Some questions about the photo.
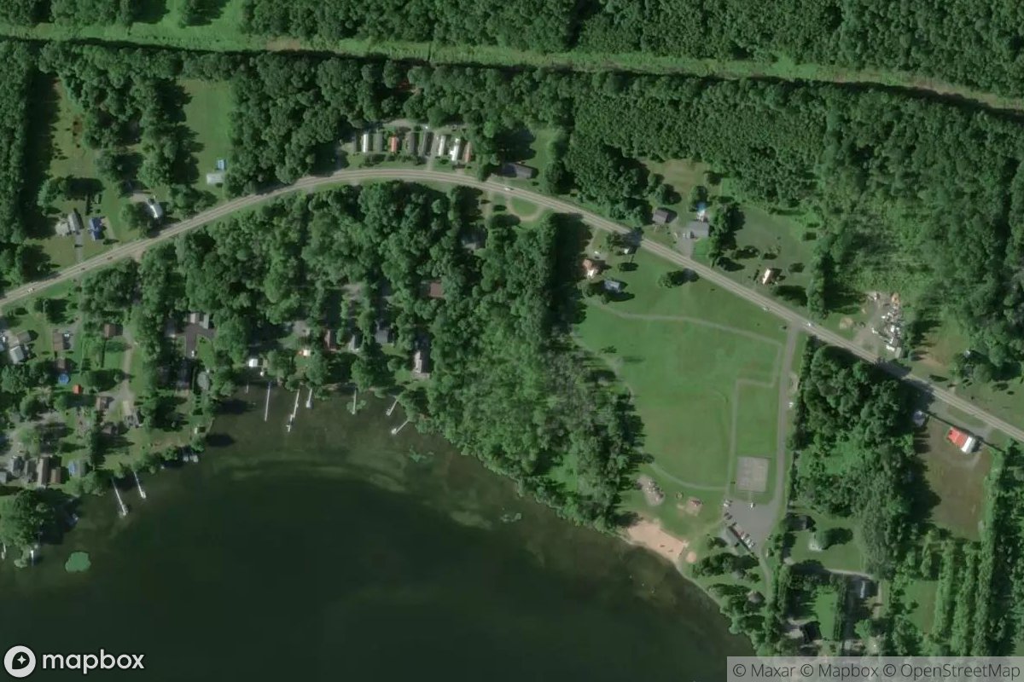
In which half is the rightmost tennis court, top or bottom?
bottom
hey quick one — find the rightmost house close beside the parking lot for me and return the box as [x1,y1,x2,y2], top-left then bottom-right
[785,514,808,530]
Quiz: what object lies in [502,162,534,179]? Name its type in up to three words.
house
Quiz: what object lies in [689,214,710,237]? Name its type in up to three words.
house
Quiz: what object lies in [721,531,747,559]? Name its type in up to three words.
building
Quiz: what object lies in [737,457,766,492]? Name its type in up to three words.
tennis court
